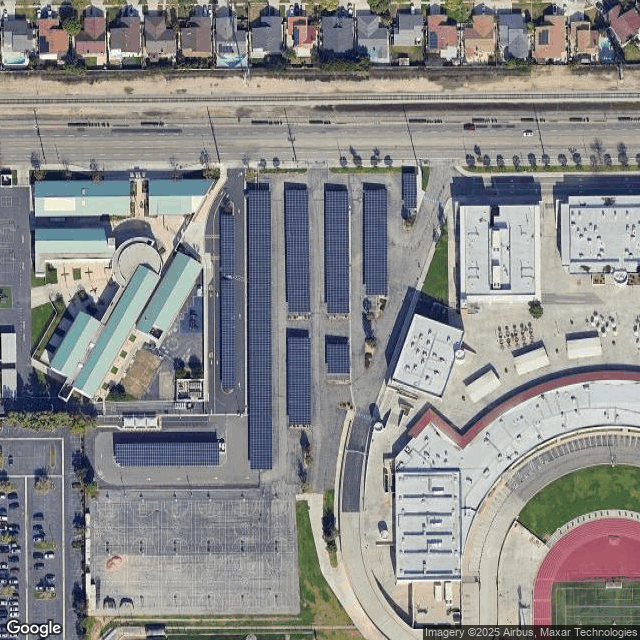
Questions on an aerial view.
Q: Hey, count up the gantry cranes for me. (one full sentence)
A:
The picture shows no gantry cranes.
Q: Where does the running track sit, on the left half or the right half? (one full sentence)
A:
The running track appears in the right half of the scene.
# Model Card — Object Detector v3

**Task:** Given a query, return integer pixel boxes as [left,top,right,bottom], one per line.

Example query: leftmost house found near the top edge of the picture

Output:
[3,19,34,53]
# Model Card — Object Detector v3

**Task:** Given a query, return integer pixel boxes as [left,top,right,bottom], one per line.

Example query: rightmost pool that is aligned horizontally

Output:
[215,52,244,67]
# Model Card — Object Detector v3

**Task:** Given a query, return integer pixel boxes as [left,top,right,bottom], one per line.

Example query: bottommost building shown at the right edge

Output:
[396,371,640,591]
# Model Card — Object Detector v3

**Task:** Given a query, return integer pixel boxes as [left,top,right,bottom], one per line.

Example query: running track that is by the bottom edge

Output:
[533,517,640,640]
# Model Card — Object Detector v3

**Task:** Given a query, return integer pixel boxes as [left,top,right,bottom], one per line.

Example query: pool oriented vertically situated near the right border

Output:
[600,38,612,64]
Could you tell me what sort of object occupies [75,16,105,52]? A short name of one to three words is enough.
house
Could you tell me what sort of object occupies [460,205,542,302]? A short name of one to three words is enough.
building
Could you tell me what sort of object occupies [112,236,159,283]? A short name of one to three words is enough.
building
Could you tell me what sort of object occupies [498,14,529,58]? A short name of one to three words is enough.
house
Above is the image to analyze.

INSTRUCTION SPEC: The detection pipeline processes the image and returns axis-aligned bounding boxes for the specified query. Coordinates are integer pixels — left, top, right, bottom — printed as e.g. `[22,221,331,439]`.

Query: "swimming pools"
[215,52,244,67]
[600,38,612,64]
[5,54,26,63]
